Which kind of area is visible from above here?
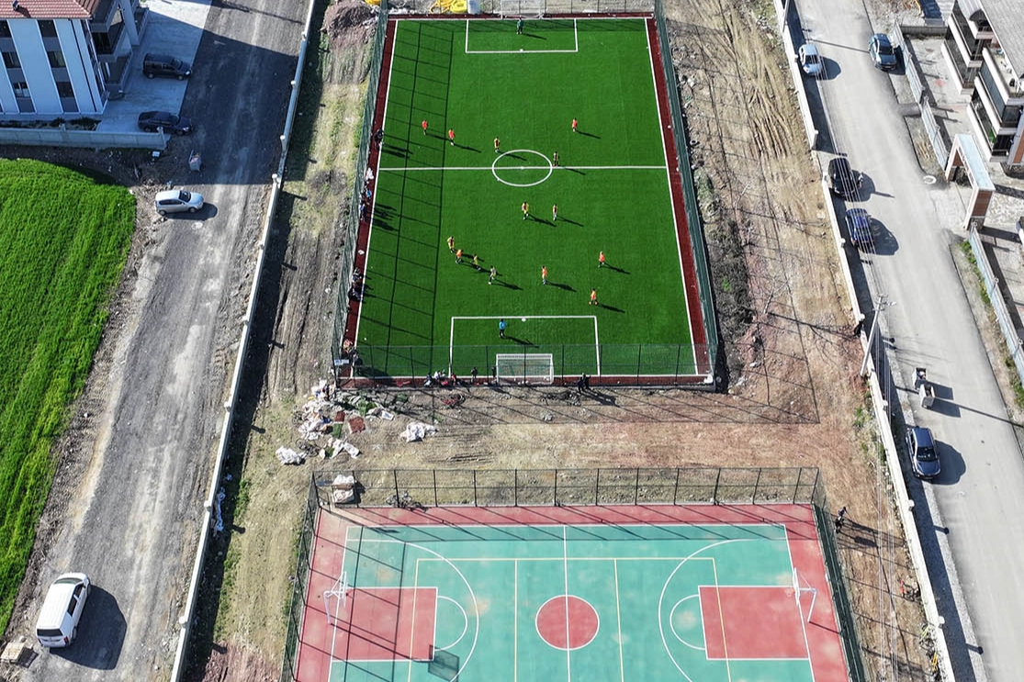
sports ground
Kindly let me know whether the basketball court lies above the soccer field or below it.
below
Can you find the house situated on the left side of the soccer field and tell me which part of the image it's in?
top left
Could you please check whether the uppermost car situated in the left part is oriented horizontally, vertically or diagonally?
horizontally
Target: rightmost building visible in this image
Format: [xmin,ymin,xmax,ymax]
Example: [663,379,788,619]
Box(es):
[935,0,1024,182]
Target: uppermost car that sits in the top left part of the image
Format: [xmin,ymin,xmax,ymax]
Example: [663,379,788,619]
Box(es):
[142,53,194,79]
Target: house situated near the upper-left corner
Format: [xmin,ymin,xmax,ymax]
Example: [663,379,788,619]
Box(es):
[0,0,148,113]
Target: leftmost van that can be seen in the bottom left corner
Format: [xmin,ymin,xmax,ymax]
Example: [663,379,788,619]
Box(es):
[35,580,89,648]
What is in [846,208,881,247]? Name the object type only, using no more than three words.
car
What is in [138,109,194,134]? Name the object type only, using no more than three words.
car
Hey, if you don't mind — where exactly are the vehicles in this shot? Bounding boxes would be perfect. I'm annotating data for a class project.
[35,580,89,648]
[798,40,826,71]
[906,422,946,475]
[138,109,194,134]
[153,188,208,215]
[828,153,860,195]
[142,53,194,79]
[846,208,881,247]
[871,29,900,63]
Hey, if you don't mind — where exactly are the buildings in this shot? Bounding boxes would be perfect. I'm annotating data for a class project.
[935,0,1024,182]
[0,0,148,113]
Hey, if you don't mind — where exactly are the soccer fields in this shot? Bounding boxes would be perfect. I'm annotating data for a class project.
[334,12,717,389]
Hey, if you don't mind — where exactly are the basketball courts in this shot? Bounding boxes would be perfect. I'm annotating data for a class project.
[293,502,850,682]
